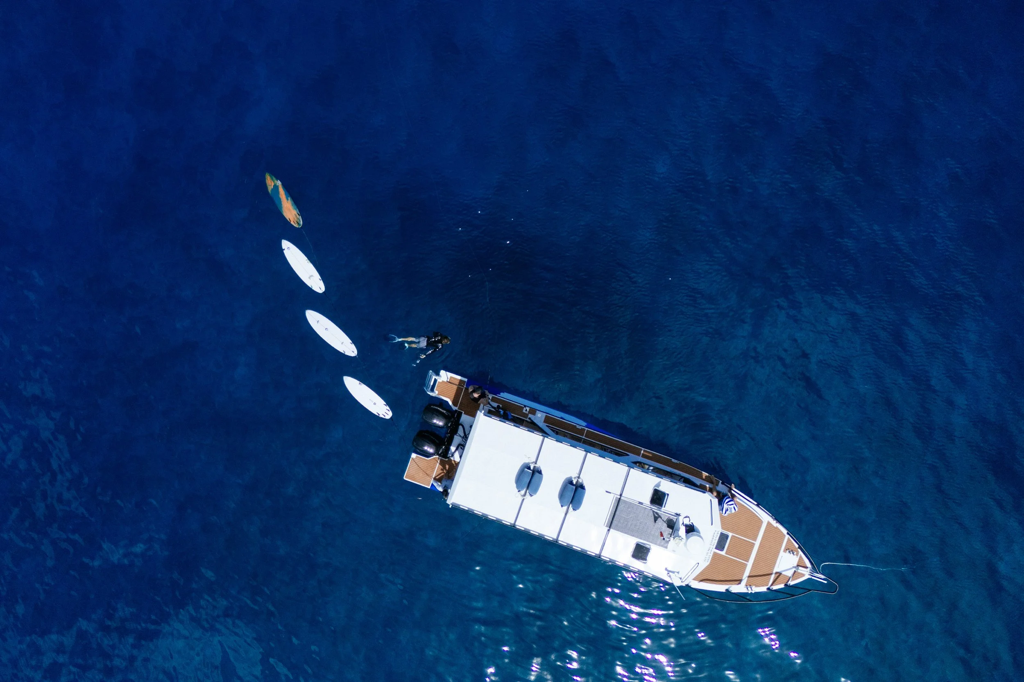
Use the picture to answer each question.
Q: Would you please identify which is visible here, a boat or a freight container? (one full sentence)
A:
The image shows a boat.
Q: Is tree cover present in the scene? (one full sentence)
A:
No, the scene doesn't show any tree cover.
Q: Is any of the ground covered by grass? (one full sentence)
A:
No, no grass is visible.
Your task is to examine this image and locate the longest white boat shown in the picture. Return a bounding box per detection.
[404,370,839,602]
